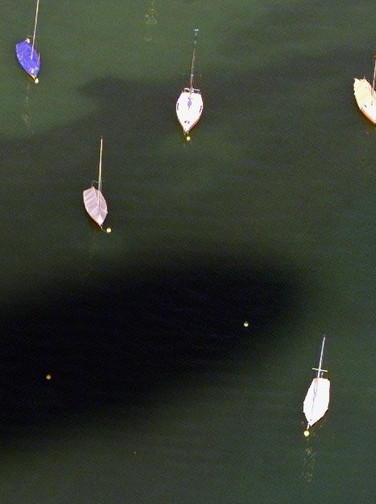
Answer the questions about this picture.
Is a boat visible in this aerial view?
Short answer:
Yes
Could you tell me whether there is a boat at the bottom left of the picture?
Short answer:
No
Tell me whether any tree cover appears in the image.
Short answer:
No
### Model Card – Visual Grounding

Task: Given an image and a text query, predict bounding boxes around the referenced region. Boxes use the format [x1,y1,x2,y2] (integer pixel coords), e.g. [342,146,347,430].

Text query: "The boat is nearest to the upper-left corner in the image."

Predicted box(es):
[16,0,41,81]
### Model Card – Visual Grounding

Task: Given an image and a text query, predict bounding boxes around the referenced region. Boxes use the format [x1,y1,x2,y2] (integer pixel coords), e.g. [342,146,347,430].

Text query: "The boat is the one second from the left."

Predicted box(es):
[83,136,108,229]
